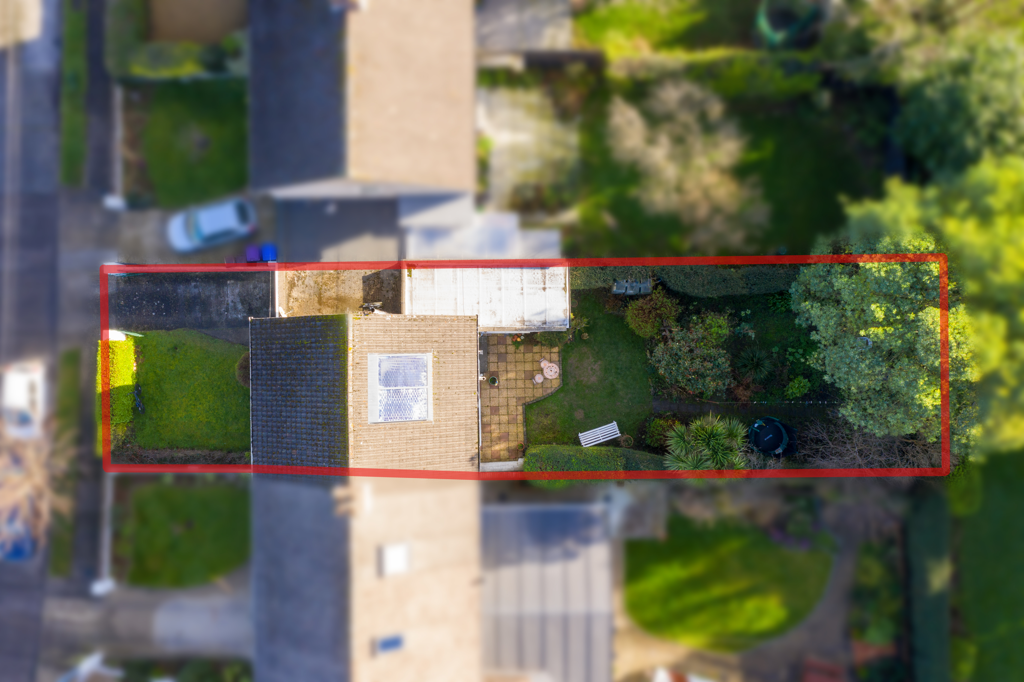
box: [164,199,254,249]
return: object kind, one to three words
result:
car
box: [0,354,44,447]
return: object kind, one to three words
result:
van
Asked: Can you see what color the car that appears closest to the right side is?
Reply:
blue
